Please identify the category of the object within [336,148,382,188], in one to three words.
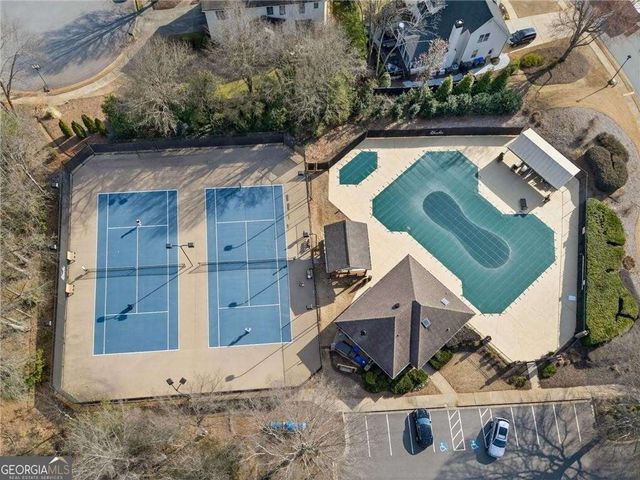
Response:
swimming pool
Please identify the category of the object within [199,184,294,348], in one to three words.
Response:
tennis court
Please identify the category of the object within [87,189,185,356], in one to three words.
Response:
tennis court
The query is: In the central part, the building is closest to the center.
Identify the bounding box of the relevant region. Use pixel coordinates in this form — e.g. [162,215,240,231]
[324,220,371,279]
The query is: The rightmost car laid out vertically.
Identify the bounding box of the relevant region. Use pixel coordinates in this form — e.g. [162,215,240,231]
[488,422,509,462]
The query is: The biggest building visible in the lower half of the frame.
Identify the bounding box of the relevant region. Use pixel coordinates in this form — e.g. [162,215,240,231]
[335,254,475,379]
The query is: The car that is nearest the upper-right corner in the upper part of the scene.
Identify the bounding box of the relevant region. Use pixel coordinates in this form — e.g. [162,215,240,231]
[509,28,539,49]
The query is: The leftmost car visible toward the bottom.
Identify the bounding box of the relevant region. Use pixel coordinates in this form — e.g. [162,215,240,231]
[416,411,436,451]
